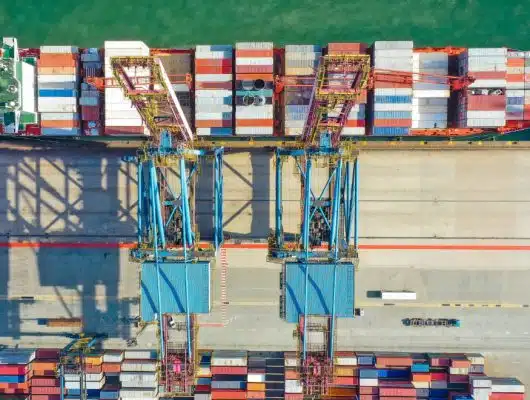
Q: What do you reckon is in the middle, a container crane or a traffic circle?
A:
container crane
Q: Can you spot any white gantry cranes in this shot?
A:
No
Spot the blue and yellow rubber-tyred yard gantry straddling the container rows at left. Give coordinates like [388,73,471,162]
[57,340,104,400]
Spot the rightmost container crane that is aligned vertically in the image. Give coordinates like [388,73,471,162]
[267,57,374,397]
